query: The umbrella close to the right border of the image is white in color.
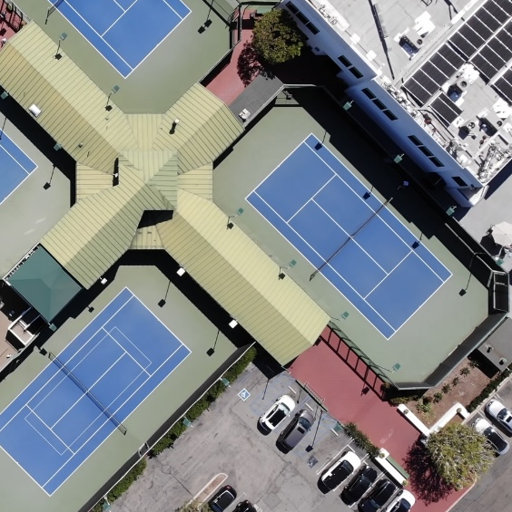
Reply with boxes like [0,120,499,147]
[489,222,512,246]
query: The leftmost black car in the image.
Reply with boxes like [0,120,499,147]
[209,482,238,512]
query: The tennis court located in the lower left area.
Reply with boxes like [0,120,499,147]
[0,247,249,512]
